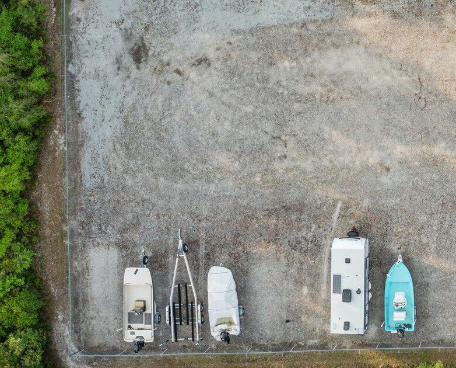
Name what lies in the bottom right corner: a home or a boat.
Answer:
boat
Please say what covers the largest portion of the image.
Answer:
paved ground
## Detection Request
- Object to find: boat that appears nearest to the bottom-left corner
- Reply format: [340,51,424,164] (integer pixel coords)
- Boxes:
[124,268,154,353]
